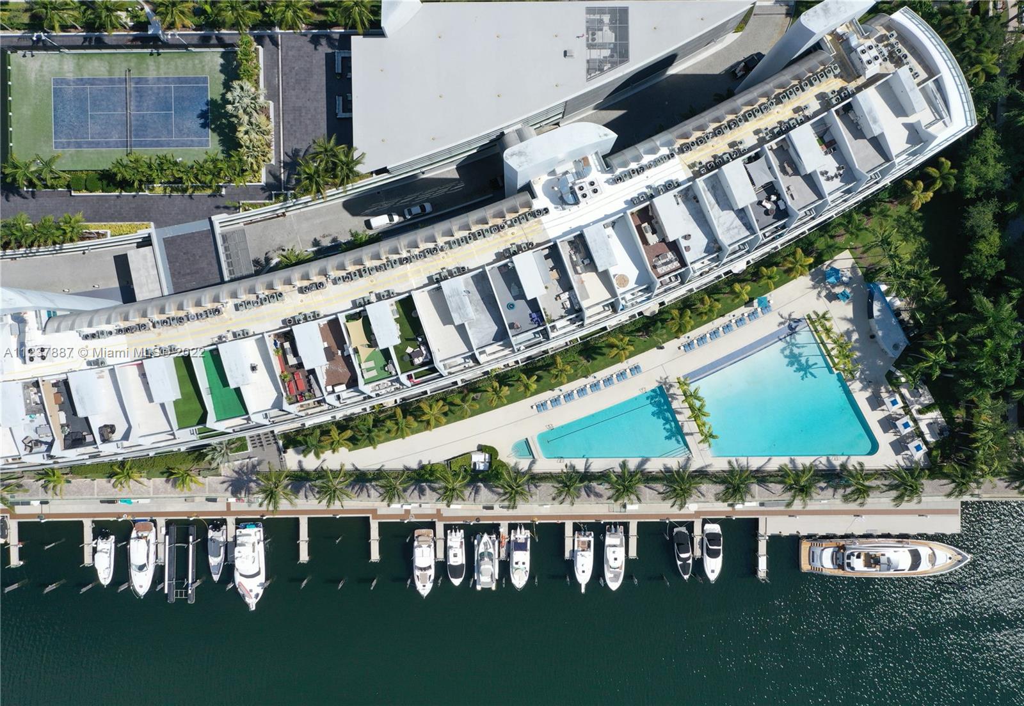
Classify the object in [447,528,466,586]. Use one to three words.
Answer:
boat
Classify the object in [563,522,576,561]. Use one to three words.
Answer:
pier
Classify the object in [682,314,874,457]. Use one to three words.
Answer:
swimming pool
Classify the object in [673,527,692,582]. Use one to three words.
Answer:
boat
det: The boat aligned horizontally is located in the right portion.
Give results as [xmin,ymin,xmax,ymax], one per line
[796,537,970,577]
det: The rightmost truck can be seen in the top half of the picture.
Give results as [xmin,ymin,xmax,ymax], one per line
[731,52,764,81]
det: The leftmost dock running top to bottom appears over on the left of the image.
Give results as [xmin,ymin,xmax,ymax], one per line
[4,520,24,568]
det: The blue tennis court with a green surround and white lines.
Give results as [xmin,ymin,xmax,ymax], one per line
[8,52,239,173]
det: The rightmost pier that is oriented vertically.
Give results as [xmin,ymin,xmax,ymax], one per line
[754,533,771,583]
